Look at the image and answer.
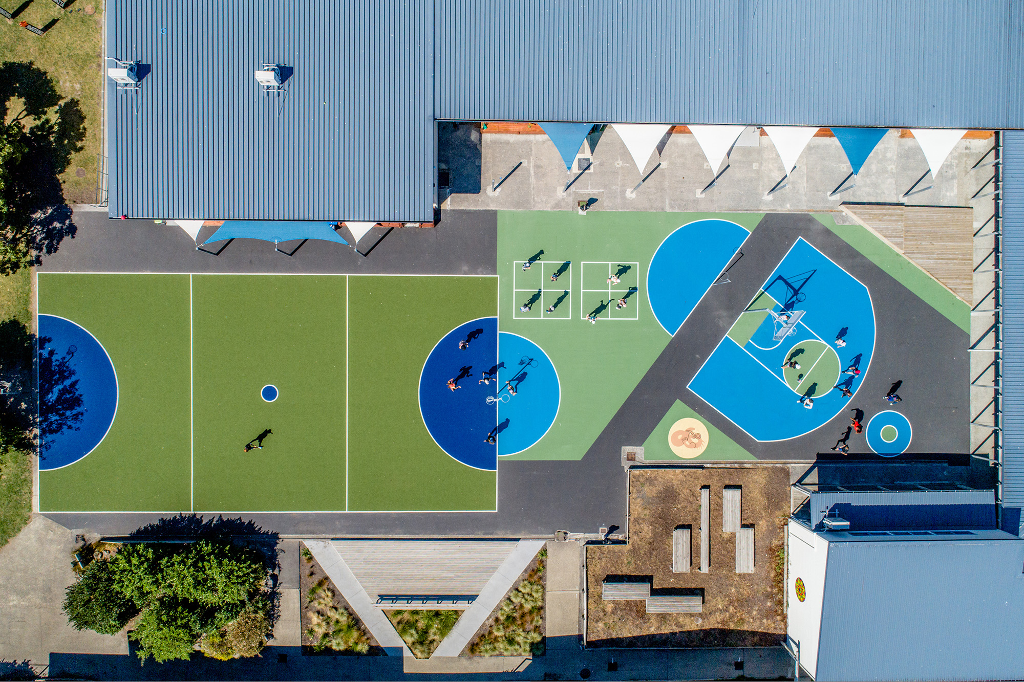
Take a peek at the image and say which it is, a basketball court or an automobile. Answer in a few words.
basketball court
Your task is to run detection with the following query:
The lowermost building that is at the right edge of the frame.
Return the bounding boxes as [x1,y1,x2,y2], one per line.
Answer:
[787,516,1024,682]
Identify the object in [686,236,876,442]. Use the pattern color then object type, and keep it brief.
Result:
blue basketball court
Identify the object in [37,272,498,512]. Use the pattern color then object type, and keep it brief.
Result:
green sports court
